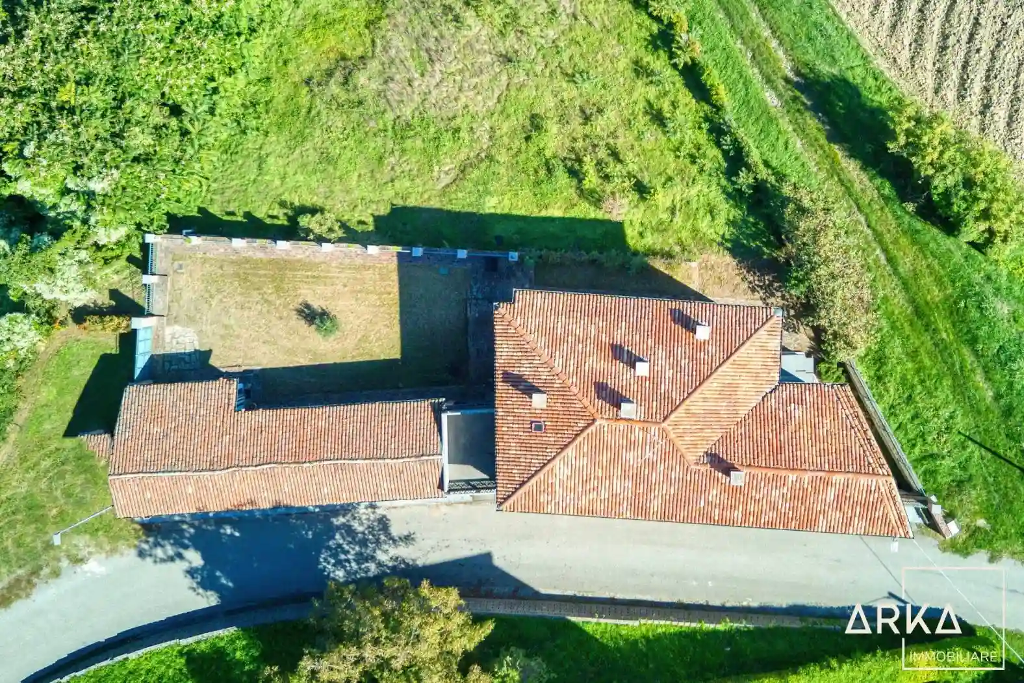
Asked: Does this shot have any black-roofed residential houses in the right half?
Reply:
No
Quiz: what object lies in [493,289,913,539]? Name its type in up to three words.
house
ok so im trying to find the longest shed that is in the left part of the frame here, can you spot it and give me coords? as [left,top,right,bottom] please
[108,379,445,519]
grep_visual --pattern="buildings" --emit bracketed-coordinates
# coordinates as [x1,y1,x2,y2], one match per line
[108,379,445,519]
[493,289,913,539]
